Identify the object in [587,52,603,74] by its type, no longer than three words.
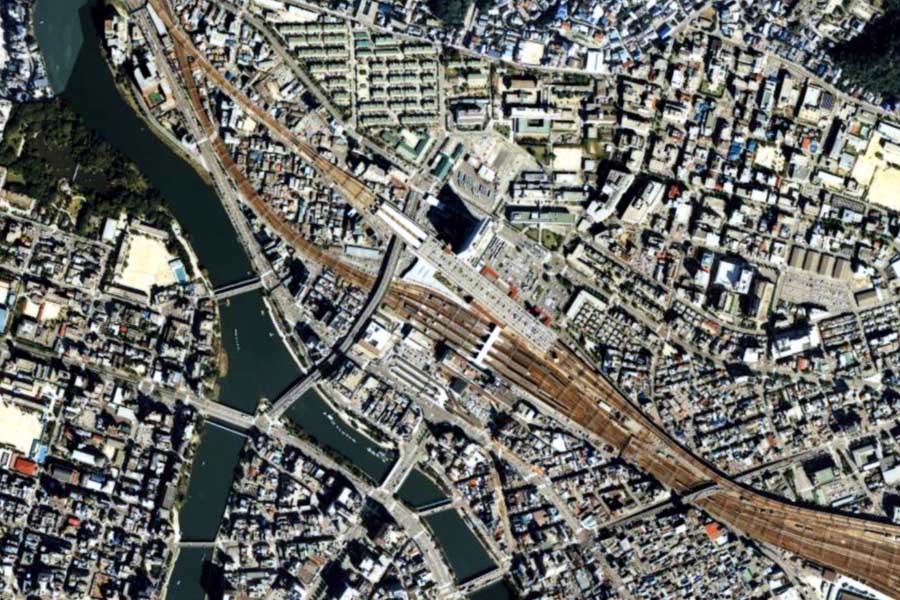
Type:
building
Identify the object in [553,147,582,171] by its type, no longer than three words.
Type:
sports field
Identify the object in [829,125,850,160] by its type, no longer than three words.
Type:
building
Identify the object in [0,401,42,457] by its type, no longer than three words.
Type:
sports field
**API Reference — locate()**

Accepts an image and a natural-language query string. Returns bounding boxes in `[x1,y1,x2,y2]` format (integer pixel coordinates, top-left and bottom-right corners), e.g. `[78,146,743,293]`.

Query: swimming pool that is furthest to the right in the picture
[170,259,188,285]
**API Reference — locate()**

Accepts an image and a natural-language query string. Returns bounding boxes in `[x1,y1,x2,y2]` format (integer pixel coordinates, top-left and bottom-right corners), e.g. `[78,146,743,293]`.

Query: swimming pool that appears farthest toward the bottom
[30,442,47,463]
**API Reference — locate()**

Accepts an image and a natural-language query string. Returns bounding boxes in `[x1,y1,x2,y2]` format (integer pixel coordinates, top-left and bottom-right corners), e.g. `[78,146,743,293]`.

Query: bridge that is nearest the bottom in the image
[446,563,510,597]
